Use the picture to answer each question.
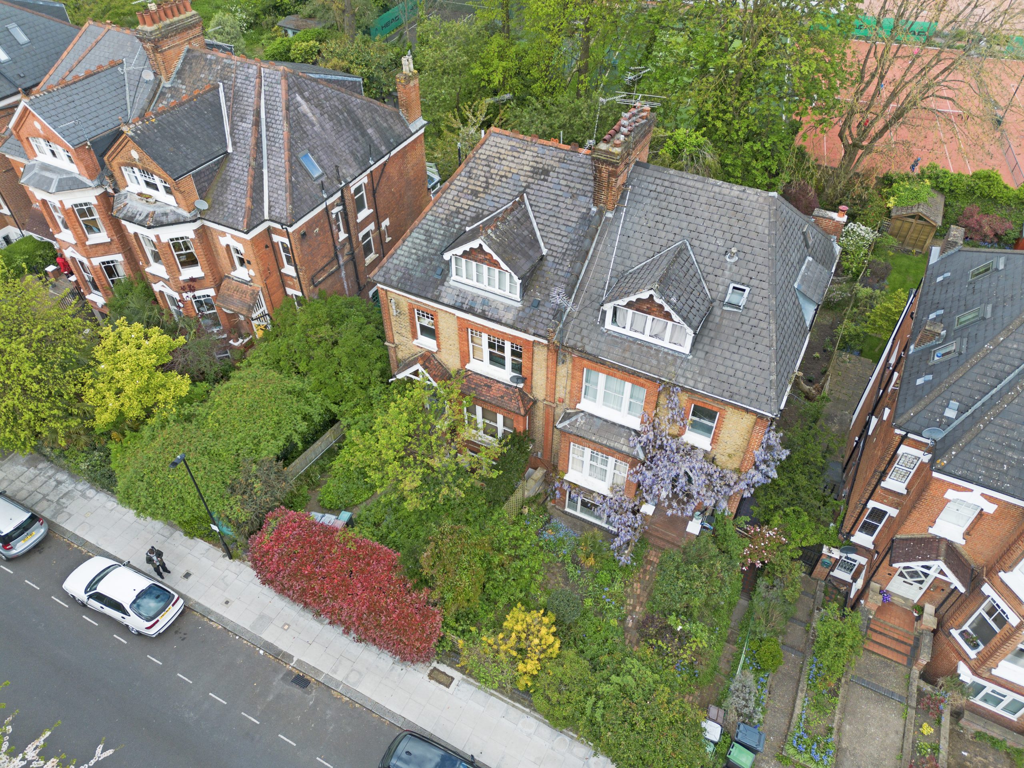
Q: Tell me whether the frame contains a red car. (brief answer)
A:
No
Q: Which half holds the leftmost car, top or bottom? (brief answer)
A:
bottom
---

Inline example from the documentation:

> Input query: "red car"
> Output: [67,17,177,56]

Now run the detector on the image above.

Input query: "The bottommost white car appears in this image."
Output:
[65,557,190,645]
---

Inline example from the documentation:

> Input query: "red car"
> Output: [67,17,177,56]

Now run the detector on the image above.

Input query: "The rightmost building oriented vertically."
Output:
[807,225,1024,705]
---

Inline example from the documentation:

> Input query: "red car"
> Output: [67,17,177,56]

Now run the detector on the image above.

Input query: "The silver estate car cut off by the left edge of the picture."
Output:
[0,495,52,561]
